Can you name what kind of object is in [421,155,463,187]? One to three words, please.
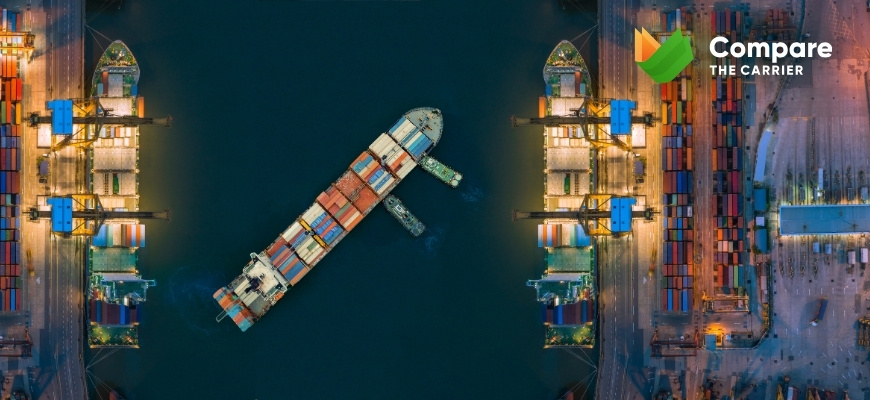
boat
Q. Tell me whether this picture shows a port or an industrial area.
port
